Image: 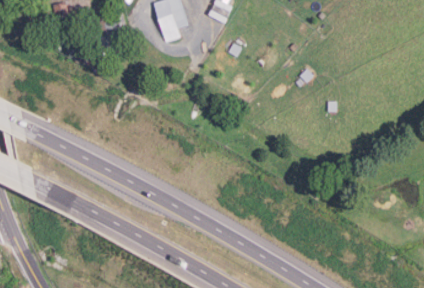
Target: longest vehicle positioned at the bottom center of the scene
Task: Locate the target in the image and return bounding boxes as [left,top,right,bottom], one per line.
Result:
[166,254,186,268]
